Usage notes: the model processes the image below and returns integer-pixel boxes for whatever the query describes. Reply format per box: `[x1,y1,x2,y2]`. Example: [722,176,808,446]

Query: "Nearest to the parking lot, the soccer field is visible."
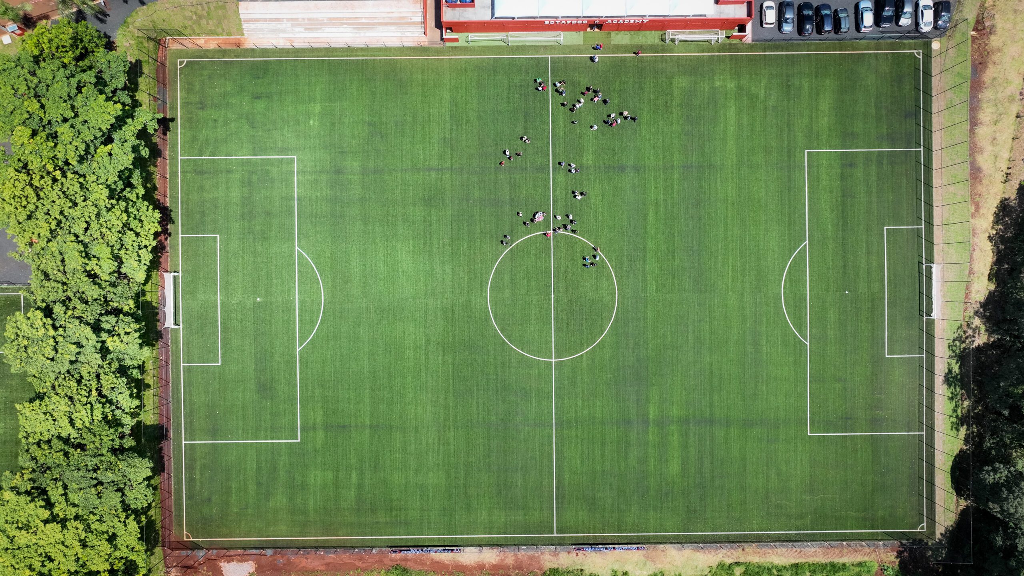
[167,41,937,550]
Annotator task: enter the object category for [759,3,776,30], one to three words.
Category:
car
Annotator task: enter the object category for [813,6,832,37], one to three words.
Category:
car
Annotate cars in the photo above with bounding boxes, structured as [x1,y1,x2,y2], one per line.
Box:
[893,0,911,29]
[930,1,949,32]
[795,4,813,38]
[914,0,933,34]
[855,2,873,34]
[759,3,776,30]
[832,9,849,37]
[776,2,794,36]
[813,6,832,37]
[874,0,893,29]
